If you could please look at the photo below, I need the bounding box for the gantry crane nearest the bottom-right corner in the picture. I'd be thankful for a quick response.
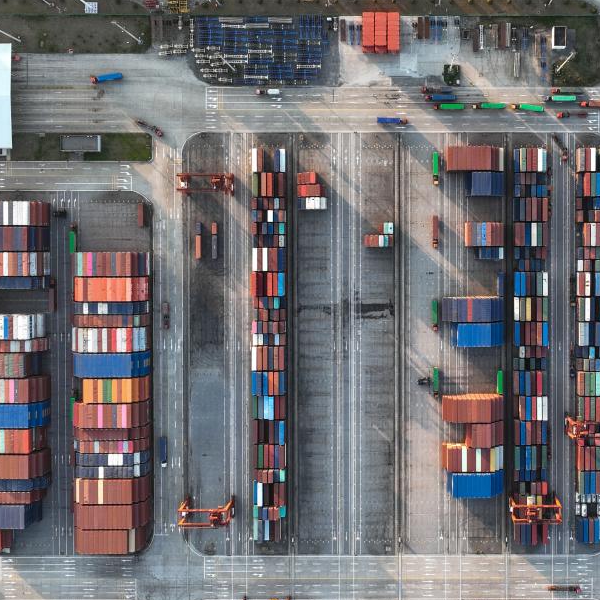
[506,492,564,524]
